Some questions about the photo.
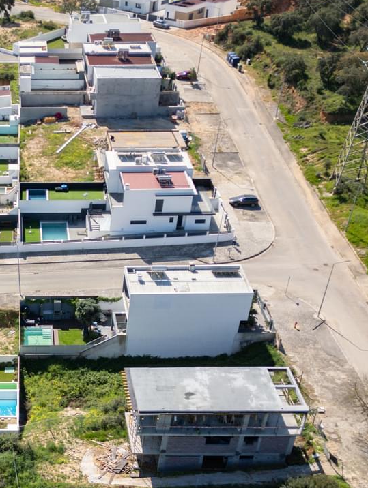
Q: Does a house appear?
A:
Yes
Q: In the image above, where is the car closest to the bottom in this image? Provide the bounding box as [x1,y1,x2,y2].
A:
[229,194,258,207]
